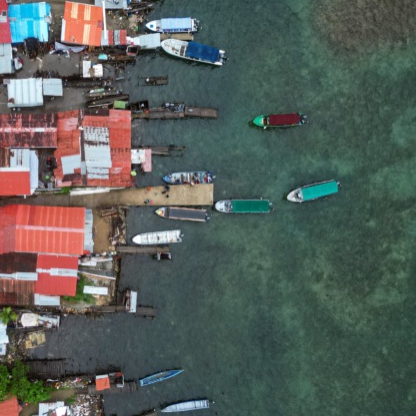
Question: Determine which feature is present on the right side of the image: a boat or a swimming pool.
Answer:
boat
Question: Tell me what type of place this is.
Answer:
residential area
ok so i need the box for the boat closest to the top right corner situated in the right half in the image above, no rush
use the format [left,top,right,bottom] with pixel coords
[254,112,308,125]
